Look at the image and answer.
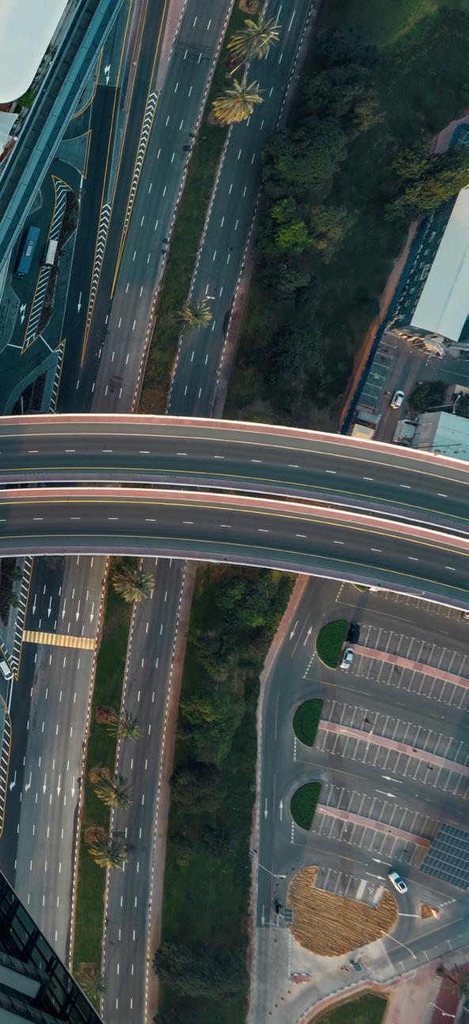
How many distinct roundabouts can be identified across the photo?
0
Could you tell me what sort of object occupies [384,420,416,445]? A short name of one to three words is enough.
shed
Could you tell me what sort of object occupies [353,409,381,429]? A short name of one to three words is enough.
shed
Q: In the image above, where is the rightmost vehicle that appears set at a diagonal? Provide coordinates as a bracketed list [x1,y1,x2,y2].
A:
[390,872,408,893]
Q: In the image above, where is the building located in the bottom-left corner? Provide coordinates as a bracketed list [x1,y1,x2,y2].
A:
[0,874,97,1024]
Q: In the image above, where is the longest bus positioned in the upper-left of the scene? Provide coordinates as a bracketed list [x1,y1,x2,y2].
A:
[15,225,42,276]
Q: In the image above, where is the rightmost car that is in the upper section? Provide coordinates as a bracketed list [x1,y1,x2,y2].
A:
[392,389,404,408]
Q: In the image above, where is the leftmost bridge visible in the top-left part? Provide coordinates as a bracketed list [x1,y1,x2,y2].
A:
[0,0,119,273]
